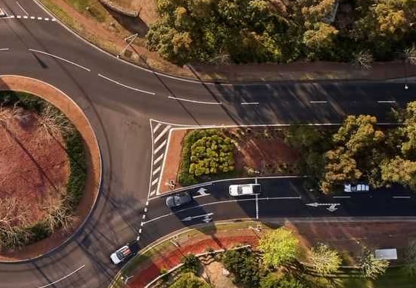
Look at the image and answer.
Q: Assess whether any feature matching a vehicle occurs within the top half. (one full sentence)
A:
No, within the top half there is no vehicle.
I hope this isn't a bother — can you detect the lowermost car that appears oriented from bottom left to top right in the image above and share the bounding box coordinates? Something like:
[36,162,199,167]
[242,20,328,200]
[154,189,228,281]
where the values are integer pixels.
[109,241,138,266]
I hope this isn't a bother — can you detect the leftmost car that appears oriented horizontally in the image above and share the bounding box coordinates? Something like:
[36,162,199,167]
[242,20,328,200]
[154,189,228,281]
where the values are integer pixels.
[164,192,195,208]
